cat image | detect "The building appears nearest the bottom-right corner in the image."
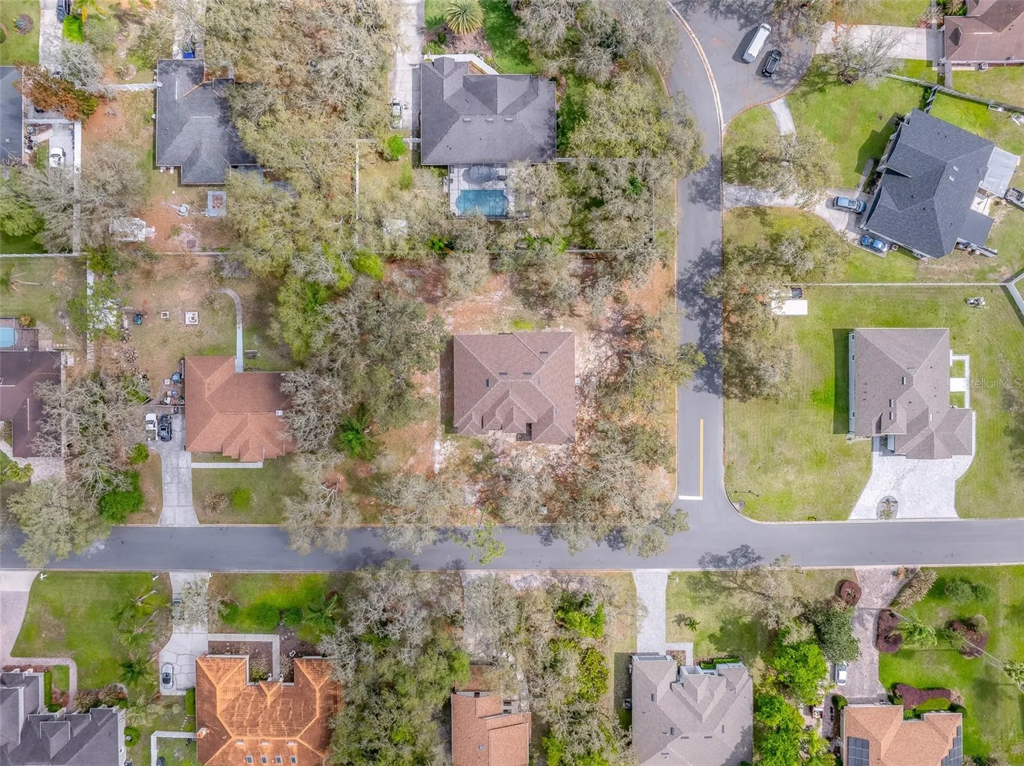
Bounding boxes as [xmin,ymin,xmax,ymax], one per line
[837,701,962,766]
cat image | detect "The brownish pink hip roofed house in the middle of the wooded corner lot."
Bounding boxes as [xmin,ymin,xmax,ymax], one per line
[453,332,576,444]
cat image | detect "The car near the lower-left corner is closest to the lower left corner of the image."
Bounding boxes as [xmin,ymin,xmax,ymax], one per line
[160,661,176,689]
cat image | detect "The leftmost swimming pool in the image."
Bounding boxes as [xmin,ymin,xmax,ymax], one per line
[0,322,21,351]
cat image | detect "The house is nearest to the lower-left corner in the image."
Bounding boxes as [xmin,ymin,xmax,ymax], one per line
[0,669,125,766]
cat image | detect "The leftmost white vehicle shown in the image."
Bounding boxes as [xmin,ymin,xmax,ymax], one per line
[49,148,67,175]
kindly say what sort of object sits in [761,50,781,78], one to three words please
car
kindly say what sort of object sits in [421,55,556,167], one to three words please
house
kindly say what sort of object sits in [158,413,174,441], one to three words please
car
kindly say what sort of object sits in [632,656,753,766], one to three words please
house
